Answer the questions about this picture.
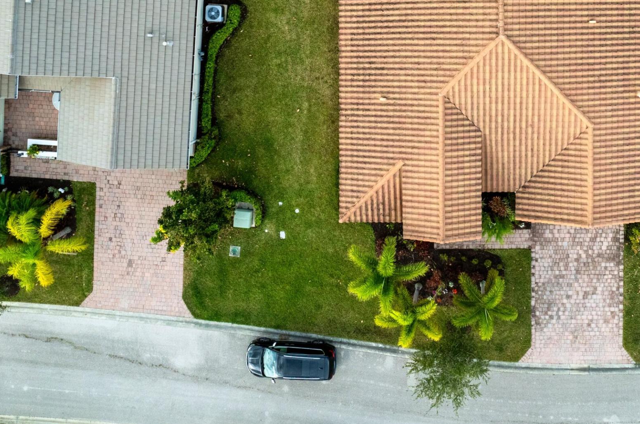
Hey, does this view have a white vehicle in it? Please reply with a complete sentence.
No, there is no white vehicle in the image.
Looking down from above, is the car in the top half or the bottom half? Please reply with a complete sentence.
The bottom half of the photo is where the car is.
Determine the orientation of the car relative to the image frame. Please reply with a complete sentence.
I'd say the car is aligned from side to side in the picture.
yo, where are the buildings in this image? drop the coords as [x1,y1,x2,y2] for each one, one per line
[0,0,206,185]
[336,0,640,245]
